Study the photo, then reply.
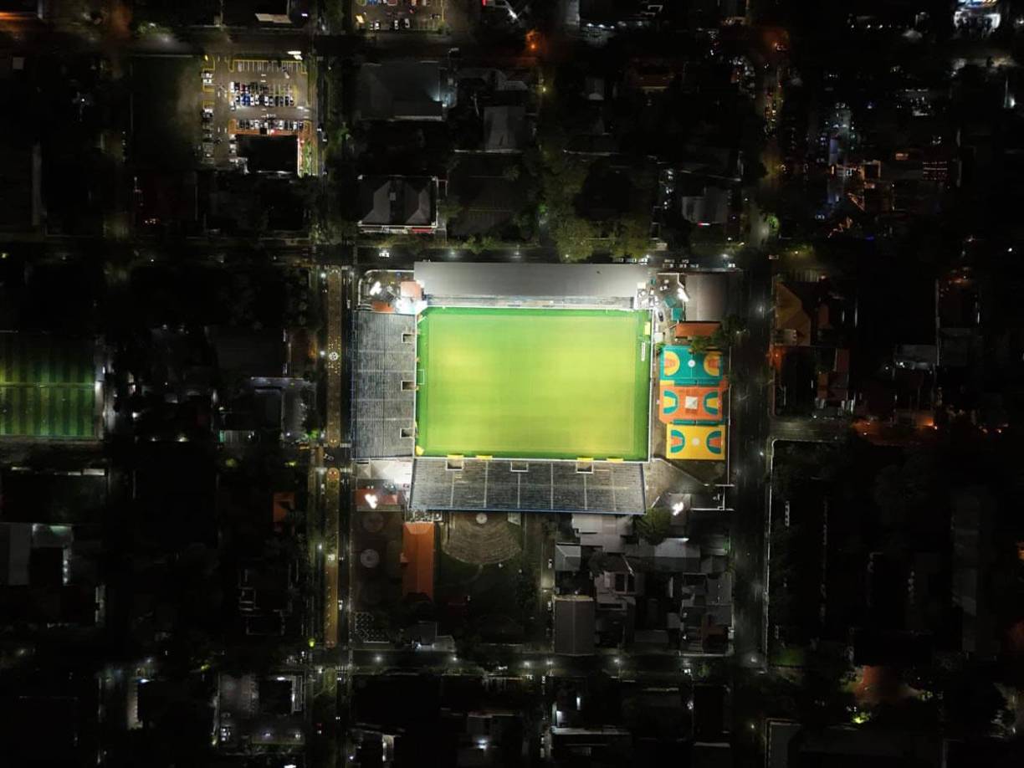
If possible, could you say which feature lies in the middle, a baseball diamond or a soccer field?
soccer field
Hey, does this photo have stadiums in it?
Yes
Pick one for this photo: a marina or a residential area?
residential area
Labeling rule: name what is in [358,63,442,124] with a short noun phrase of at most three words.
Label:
building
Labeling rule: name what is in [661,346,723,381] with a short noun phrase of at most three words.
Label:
basketball court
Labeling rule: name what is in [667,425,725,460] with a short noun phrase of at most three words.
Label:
basketball court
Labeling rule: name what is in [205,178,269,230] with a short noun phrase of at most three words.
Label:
house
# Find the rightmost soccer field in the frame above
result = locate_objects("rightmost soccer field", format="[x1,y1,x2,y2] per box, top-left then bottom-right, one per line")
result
[417,307,649,459]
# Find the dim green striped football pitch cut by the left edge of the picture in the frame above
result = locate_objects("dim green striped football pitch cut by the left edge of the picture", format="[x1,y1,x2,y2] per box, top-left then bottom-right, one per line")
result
[0,332,95,437]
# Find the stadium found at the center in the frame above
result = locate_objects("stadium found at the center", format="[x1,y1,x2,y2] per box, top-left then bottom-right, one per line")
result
[351,262,657,514]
